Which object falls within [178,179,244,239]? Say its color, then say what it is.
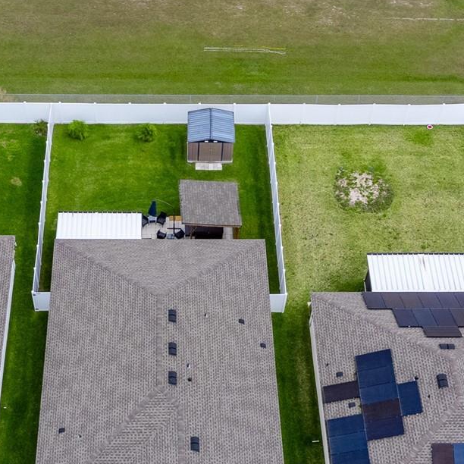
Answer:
gray gazebo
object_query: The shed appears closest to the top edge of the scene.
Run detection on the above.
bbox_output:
[186,107,237,162]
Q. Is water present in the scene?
No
